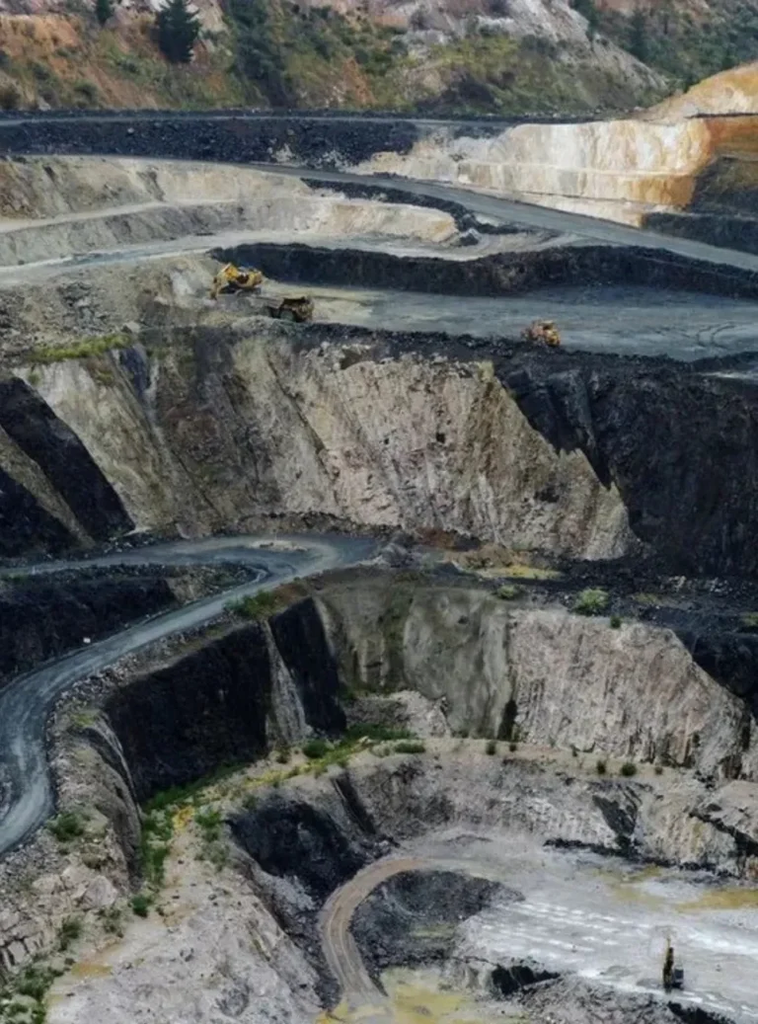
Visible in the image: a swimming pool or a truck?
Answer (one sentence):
The image shows a truck.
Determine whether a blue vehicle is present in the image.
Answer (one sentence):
No, I find no blue vehicle anywhere in the image.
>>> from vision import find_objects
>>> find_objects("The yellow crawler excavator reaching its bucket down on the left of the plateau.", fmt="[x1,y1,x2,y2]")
[208,264,269,299]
